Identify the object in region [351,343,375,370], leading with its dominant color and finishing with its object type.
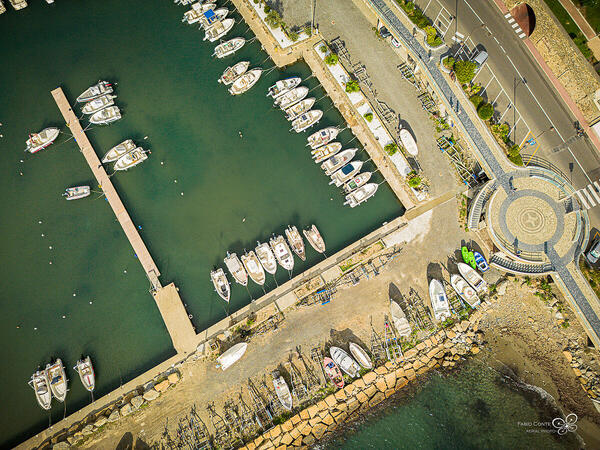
white boat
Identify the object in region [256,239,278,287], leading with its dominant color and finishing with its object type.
white boat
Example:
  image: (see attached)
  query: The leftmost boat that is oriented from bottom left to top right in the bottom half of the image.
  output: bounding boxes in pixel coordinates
[216,343,247,368]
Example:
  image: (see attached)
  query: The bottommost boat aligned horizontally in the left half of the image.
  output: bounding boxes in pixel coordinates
[62,186,103,200]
